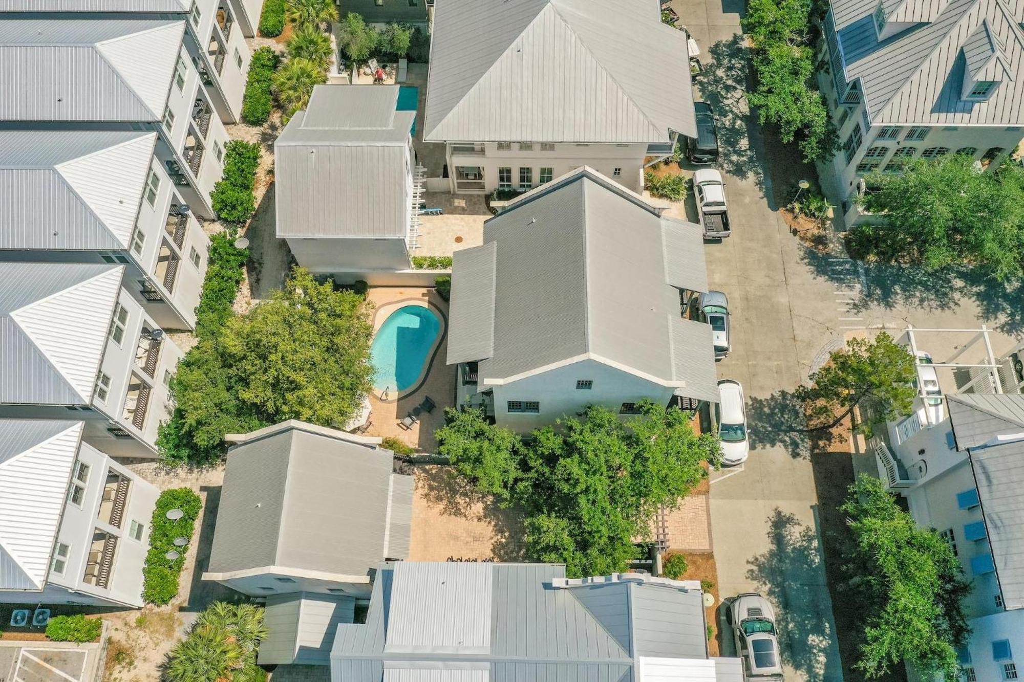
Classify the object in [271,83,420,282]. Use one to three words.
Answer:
house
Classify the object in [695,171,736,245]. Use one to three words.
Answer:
truck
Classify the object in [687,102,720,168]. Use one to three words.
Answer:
car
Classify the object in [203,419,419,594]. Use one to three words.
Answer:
building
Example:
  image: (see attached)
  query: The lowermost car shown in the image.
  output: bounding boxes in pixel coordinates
[731,594,783,682]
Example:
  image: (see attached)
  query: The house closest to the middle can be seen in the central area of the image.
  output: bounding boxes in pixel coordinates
[447,176,718,425]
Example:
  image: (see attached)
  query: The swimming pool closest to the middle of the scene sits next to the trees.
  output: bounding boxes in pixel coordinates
[356,292,450,406]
